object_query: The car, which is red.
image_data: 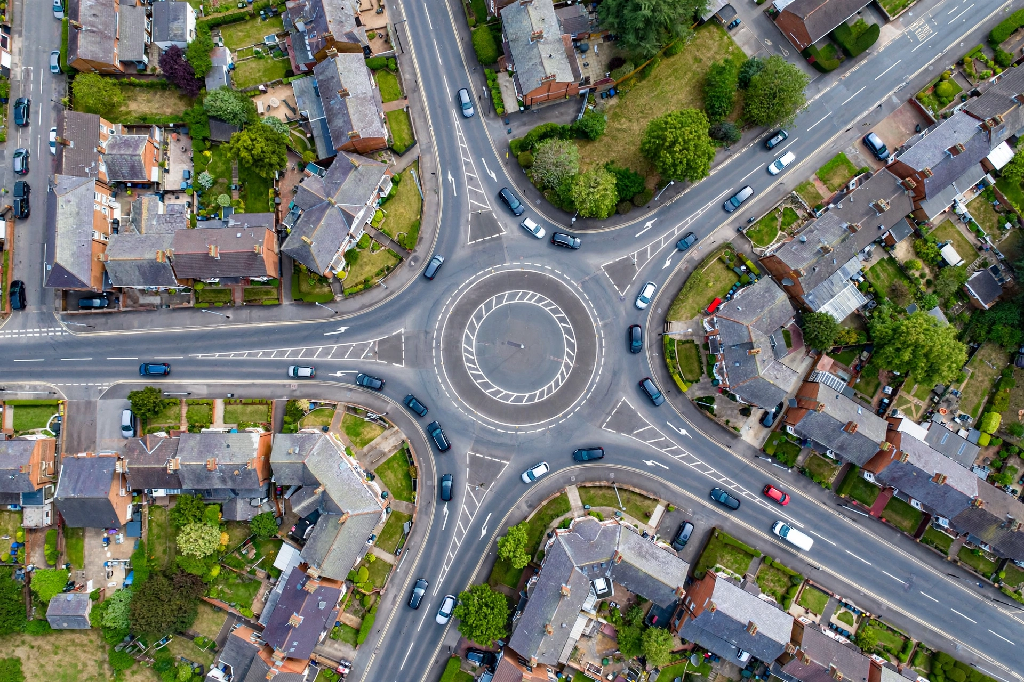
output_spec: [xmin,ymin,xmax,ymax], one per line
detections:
[759,482,790,506]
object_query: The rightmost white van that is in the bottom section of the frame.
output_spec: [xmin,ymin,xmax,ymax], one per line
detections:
[772,520,816,552]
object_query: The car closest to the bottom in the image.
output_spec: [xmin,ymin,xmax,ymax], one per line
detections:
[465,648,495,667]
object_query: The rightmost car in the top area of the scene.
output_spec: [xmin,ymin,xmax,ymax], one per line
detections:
[862,130,887,161]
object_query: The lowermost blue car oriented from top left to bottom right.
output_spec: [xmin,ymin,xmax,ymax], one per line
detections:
[708,485,743,512]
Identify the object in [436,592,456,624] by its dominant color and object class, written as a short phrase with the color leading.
white car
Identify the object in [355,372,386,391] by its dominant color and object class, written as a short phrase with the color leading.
blue car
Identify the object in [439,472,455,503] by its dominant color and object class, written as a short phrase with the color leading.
blue car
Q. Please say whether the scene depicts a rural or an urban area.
urban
